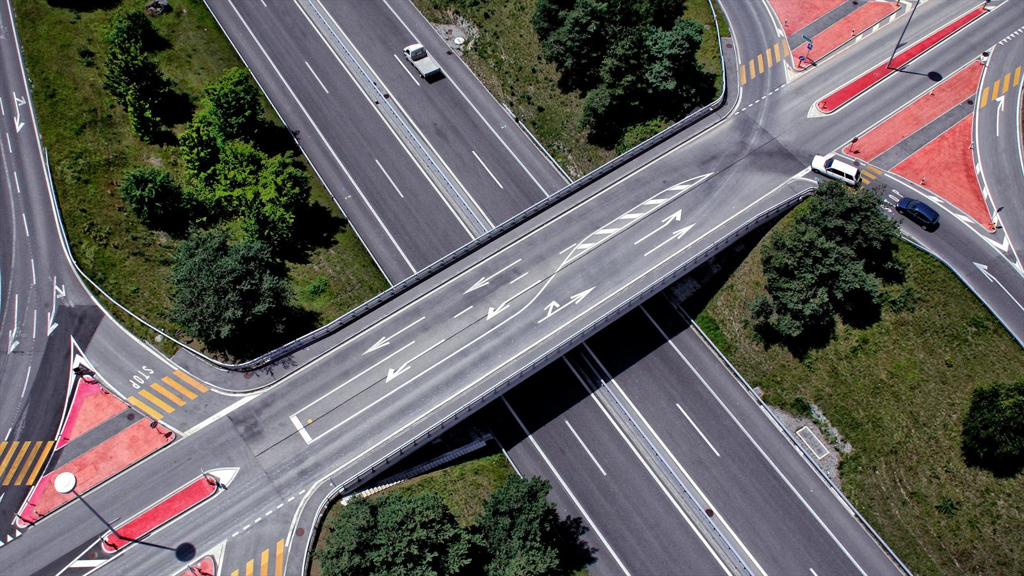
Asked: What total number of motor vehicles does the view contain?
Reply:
3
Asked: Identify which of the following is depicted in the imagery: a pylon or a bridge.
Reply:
bridge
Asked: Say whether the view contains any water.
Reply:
No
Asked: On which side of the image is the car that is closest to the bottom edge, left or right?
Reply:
right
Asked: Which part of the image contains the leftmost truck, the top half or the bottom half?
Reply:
top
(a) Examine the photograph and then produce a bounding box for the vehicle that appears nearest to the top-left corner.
[405,46,441,81]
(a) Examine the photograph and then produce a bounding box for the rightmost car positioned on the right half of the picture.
[893,198,941,233]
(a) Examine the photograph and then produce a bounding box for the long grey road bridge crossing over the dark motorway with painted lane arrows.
[271,106,807,492]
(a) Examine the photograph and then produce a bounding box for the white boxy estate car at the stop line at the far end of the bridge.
[810,155,861,189]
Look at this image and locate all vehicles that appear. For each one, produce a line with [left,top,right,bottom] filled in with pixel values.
[810,155,861,189]
[405,46,441,81]
[893,198,941,233]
